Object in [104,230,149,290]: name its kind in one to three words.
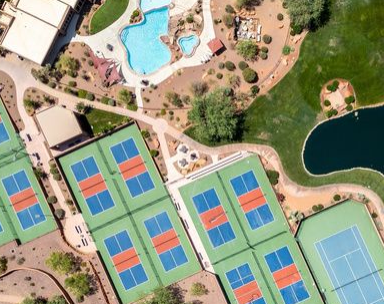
sports court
